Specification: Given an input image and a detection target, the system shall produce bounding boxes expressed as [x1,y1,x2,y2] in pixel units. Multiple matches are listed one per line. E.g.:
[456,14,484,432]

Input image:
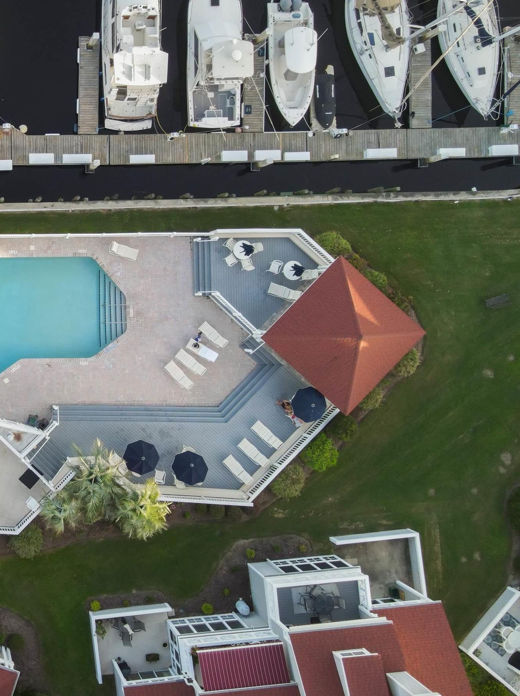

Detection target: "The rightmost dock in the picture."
[501,27,520,127]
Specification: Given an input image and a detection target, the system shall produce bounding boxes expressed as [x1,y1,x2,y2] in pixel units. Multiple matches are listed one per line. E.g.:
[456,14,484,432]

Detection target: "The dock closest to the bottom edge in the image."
[0,126,520,168]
